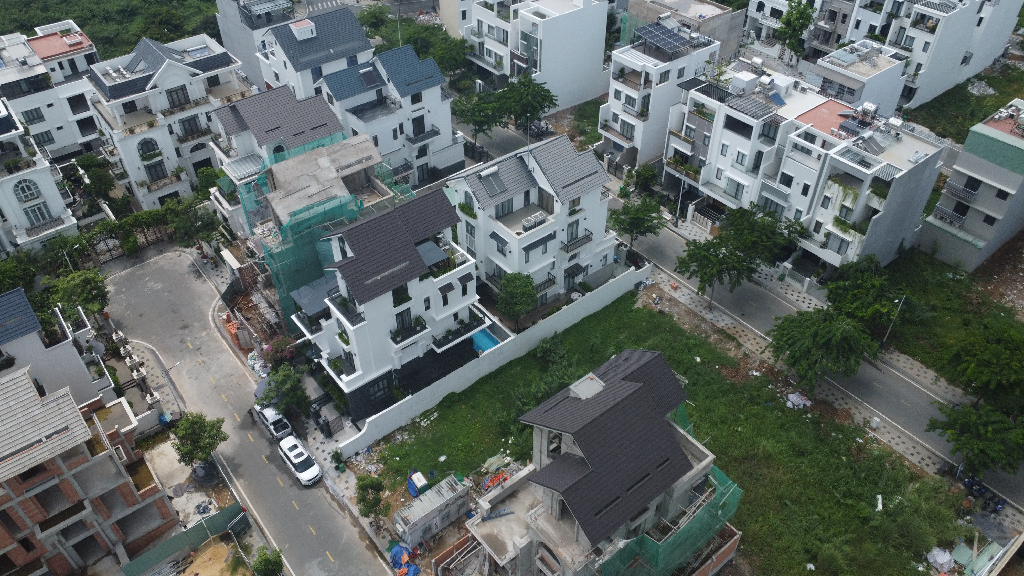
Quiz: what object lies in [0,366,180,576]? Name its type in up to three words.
house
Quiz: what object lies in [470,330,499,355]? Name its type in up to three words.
swimming pool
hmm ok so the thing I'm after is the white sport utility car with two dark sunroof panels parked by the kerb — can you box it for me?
[280,438,320,484]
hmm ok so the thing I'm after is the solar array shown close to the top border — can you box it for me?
[634,22,694,62]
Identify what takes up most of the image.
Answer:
buildings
